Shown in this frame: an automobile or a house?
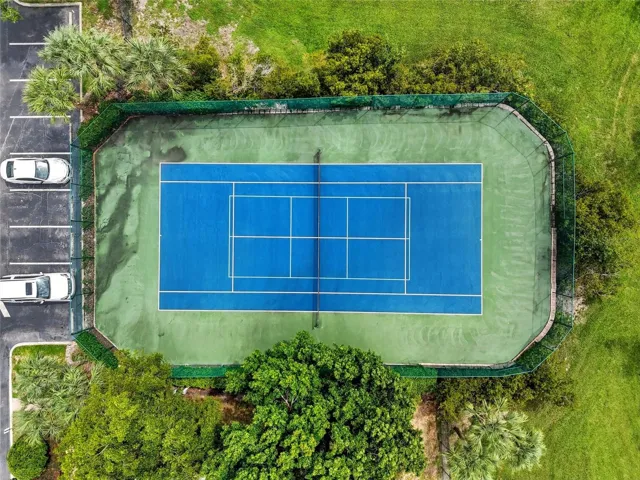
automobile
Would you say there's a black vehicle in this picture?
No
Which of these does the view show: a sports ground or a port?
sports ground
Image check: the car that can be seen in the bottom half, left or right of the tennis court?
left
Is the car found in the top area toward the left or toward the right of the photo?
left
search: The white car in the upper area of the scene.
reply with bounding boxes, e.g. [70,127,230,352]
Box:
[1,156,73,185]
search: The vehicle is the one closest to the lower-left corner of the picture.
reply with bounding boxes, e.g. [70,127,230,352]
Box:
[0,272,79,305]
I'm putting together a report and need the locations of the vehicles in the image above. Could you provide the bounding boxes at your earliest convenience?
[1,156,73,185]
[0,272,79,305]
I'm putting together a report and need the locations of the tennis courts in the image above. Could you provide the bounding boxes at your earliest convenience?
[94,107,553,365]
